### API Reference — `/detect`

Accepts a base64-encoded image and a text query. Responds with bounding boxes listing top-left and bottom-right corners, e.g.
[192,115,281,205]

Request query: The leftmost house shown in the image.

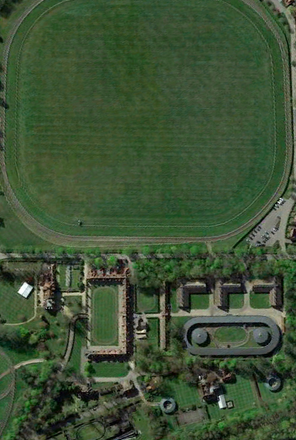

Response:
[41,264,56,308]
